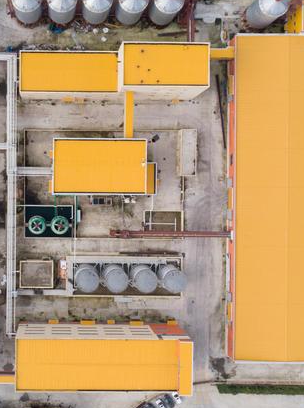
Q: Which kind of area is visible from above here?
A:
industrial area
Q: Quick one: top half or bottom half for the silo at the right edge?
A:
top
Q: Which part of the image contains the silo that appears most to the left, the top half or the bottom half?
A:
top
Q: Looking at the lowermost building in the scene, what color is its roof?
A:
orange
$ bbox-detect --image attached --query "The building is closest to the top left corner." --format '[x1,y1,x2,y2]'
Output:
[19,51,121,101]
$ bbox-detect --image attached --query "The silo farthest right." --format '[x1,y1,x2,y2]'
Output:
[246,0,291,31]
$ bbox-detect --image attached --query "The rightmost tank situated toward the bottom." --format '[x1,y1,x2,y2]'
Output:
[154,264,186,292]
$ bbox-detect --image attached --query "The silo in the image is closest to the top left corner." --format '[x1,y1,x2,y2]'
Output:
[11,0,46,26]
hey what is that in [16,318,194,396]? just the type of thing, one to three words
building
